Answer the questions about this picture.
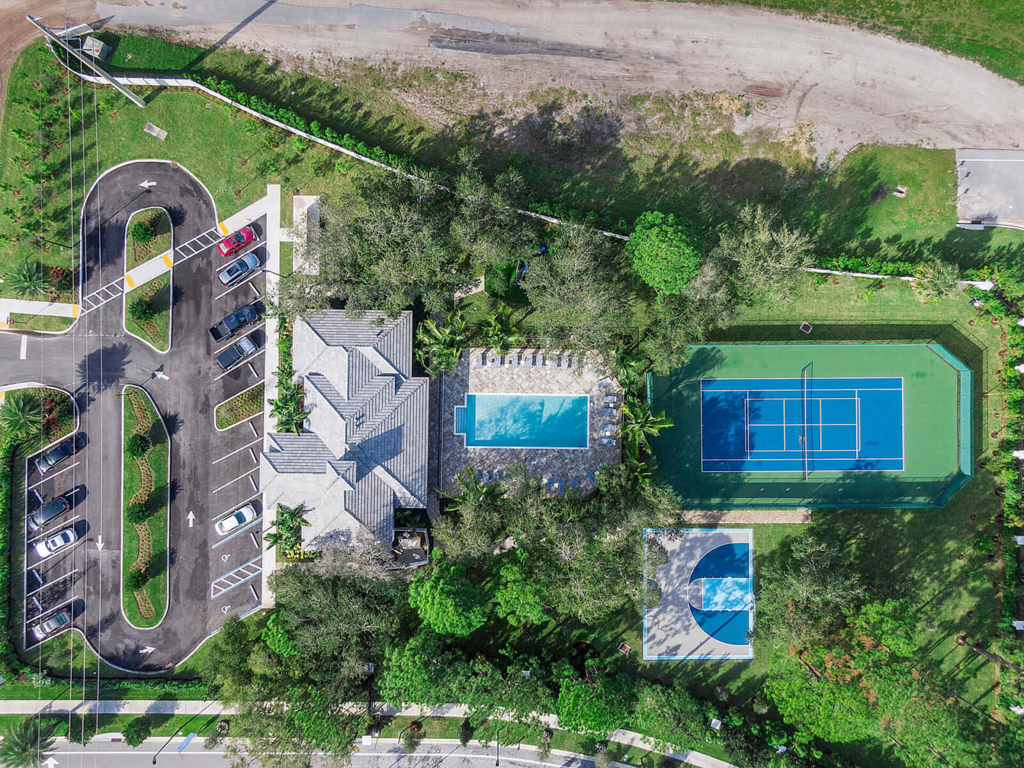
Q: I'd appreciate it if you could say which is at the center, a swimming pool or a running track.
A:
swimming pool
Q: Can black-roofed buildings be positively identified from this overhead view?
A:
No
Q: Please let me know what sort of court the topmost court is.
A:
tennis court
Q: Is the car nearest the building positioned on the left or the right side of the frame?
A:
left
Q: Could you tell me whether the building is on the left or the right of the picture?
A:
left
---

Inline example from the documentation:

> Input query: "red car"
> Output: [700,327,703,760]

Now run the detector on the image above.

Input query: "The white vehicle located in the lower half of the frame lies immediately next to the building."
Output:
[214,503,258,536]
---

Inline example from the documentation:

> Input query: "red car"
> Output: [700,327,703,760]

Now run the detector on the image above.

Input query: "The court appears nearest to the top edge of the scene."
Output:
[646,345,959,504]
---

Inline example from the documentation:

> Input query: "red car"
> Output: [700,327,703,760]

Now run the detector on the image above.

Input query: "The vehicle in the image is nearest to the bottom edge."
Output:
[32,608,74,640]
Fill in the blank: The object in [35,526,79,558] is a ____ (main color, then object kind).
white car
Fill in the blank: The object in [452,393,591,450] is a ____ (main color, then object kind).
blue swimming pool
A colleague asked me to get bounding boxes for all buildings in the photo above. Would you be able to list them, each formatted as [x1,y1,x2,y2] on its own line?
[259,309,429,554]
